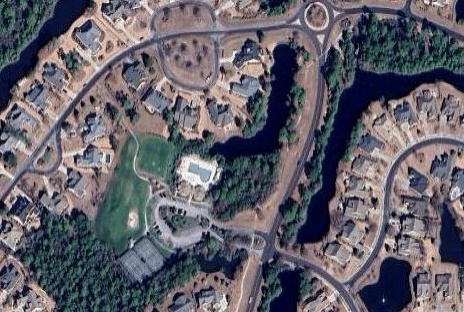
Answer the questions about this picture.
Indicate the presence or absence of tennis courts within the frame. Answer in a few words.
Yes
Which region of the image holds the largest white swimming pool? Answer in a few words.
center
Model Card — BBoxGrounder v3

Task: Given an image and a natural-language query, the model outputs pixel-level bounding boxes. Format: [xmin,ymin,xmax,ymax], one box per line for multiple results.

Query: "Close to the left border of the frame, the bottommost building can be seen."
[17,287,46,312]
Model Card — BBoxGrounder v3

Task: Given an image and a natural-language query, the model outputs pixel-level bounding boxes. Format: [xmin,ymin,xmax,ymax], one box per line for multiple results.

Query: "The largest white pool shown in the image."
[176,154,218,189]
